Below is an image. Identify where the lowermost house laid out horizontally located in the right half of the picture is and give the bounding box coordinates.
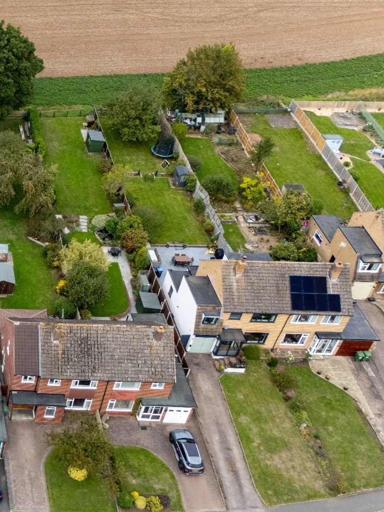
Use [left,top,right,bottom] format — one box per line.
[165,253,382,356]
